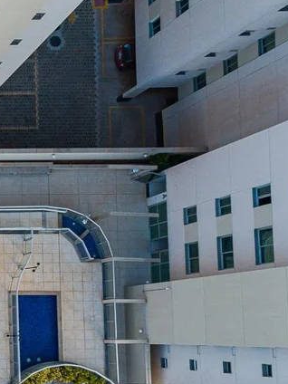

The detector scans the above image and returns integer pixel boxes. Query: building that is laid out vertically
[126,0,288,384]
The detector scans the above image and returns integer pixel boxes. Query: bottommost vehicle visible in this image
[114,45,135,74]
